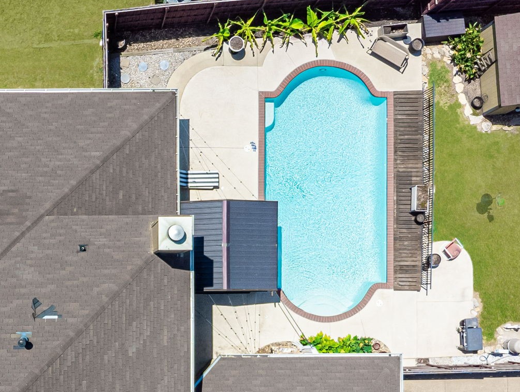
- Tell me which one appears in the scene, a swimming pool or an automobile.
swimming pool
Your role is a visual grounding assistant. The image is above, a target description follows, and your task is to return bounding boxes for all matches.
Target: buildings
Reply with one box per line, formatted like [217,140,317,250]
[0,88,406,392]
[478,12,520,114]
